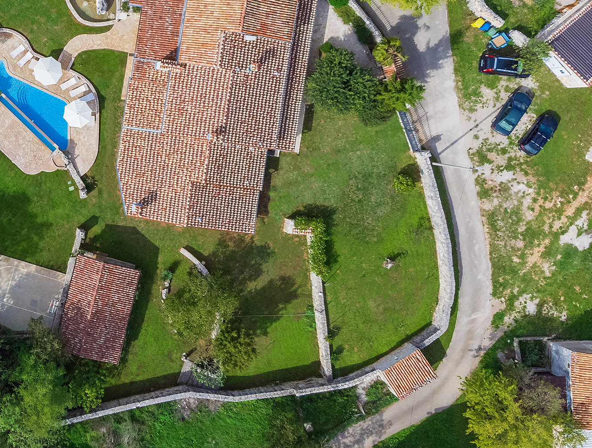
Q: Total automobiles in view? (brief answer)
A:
3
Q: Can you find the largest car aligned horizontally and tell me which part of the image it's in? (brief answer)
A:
top right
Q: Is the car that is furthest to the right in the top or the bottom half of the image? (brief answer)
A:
top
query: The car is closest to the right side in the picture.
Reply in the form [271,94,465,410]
[517,110,554,158]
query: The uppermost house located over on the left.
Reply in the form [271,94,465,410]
[115,0,320,236]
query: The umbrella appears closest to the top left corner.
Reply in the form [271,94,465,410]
[33,57,62,86]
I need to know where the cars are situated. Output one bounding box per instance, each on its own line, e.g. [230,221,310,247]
[475,54,528,78]
[517,110,554,158]
[490,88,528,136]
